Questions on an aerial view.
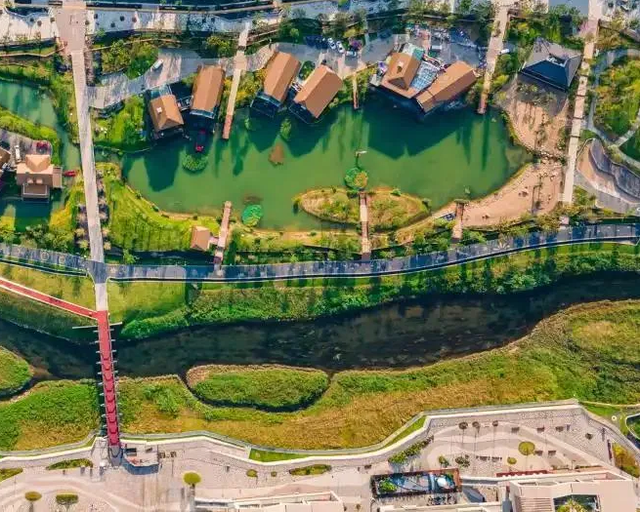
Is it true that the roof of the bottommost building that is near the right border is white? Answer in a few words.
Yes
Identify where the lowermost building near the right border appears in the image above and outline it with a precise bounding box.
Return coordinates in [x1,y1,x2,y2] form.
[454,466,640,512]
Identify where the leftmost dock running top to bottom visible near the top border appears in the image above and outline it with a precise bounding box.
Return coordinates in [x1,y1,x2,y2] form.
[222,23,251,138]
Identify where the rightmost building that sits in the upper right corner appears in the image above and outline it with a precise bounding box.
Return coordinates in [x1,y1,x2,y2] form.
[518,41,576,88]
